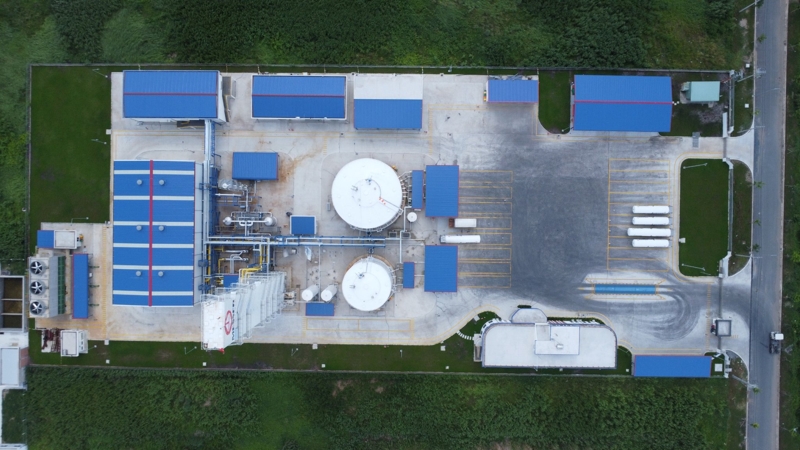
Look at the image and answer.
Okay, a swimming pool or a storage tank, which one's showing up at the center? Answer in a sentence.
What appears at the center is a storage tank.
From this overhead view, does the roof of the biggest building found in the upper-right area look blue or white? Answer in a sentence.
From above, the roof of the biggest building found in the upper-right area appears blue.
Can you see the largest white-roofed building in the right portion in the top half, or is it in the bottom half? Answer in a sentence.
You can find the largest white-roofed building in the right portion in the bottom half.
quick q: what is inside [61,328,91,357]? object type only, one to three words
shed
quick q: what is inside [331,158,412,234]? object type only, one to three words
storage tank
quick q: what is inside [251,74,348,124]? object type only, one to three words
building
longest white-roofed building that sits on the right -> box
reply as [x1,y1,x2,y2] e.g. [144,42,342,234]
[473,307,616,371]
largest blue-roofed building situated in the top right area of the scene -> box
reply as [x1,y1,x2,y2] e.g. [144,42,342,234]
[569,75,673,134]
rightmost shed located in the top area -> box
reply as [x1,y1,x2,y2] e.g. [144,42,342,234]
[680,81,719,107]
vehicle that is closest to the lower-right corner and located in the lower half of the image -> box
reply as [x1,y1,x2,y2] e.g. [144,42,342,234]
[767,331,784,355]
